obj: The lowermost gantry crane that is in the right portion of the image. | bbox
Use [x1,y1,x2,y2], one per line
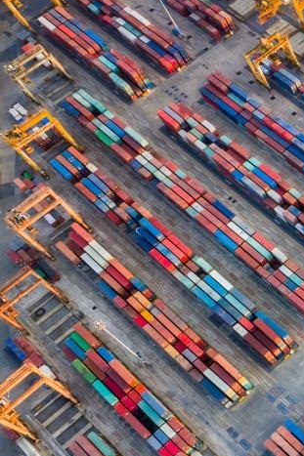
[241,26,301,89]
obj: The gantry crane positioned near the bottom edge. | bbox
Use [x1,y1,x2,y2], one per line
[0,370,83,446]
